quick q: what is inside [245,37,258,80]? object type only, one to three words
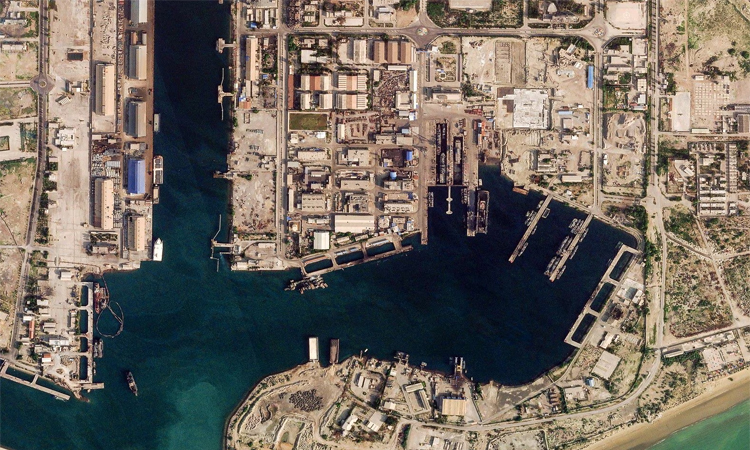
building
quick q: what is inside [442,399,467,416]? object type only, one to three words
building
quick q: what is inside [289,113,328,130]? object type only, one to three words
sports field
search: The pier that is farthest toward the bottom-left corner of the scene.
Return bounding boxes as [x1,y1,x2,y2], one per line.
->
[0,363,70,399]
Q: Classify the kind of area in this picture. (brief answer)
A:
port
